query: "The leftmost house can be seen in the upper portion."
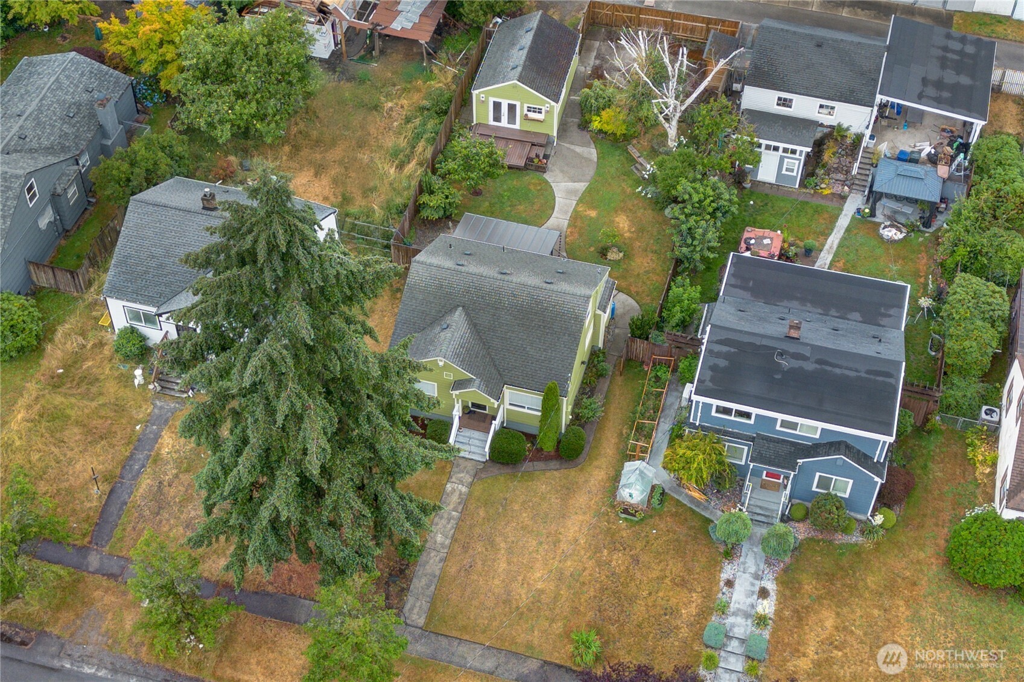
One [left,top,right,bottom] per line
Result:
[0,47,153,299]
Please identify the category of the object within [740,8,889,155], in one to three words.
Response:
building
